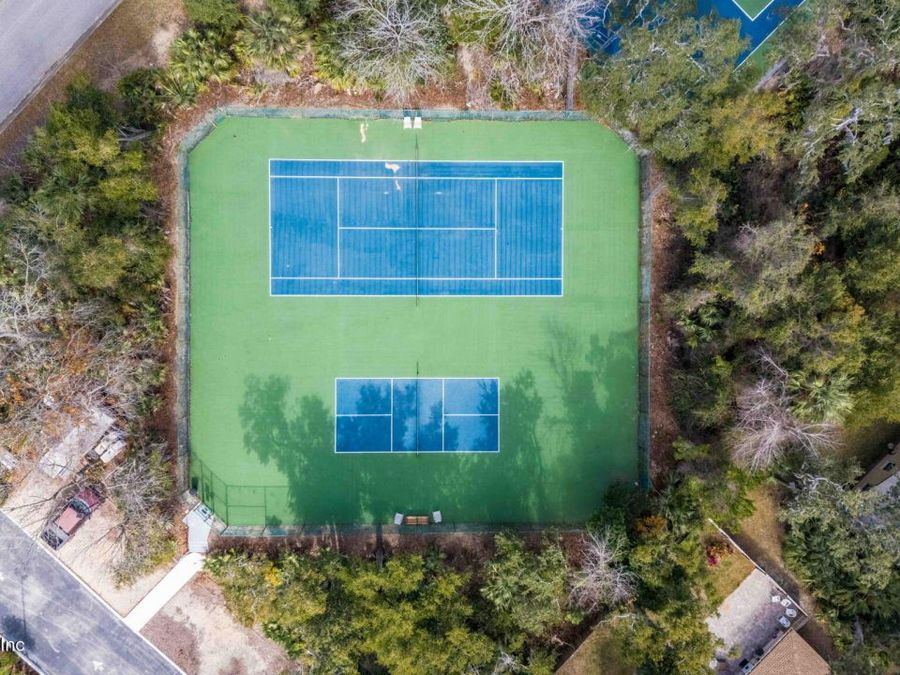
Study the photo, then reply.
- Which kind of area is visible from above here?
sports ground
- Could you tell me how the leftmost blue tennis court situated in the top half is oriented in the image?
from side to side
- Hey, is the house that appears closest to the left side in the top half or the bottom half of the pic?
bottom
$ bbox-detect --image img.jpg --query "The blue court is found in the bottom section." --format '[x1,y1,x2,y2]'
[336,378,499,453]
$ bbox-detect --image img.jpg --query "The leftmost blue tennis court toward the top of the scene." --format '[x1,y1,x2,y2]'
[269,159,563,296]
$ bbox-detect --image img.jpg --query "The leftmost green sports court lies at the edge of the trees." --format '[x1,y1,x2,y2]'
[189,118,639,526]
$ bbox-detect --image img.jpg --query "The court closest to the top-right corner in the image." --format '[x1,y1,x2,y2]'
[552,0,834,130]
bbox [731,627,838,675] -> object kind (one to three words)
house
